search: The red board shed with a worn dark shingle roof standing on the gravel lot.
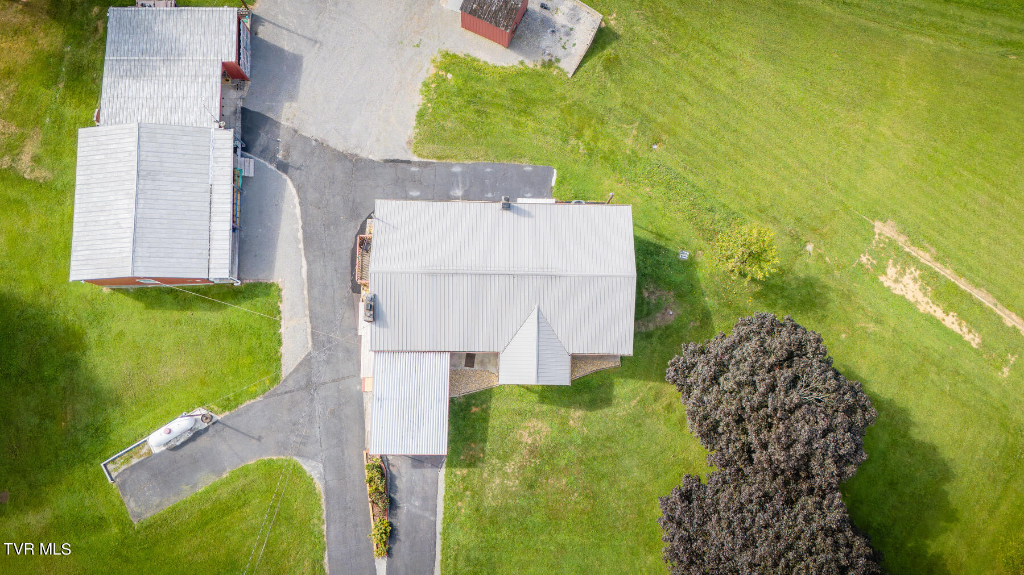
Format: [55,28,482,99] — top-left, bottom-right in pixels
[458,0,531,47]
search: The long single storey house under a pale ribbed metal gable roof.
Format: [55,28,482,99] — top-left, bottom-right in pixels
[368,200,637,385]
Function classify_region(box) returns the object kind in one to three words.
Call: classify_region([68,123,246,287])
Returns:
barn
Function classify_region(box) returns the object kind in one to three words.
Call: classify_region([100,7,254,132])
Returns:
building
